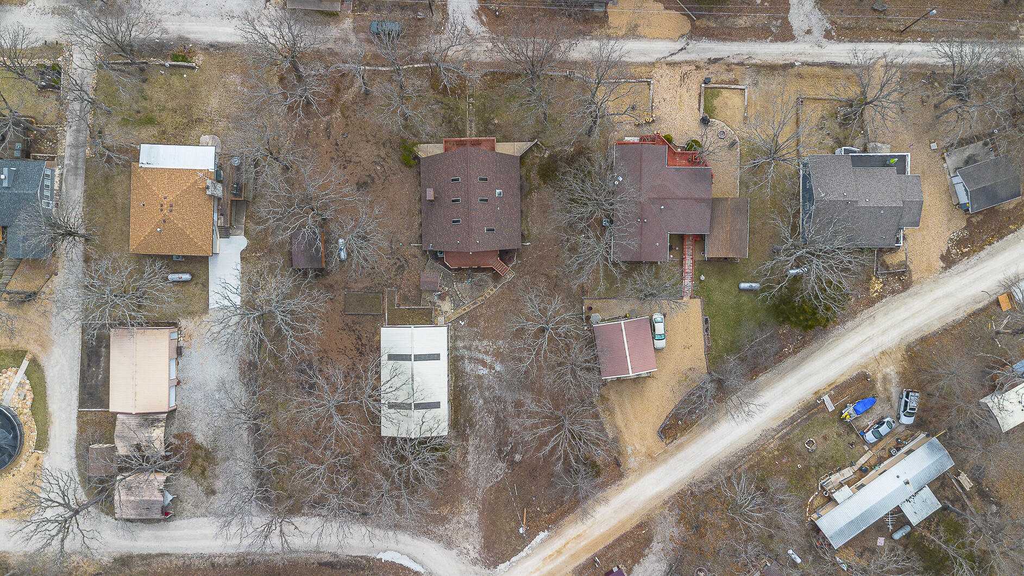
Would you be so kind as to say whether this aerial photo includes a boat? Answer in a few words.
Yes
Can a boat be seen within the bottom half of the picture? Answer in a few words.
Yes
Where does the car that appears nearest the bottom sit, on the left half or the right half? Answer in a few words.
right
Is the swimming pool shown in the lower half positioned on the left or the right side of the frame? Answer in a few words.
left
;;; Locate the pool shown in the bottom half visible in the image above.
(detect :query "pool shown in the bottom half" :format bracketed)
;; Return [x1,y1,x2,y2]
[0,402,29,468]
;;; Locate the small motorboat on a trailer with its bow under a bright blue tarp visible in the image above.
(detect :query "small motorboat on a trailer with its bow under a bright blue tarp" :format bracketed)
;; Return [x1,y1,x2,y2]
[839,396,878,423]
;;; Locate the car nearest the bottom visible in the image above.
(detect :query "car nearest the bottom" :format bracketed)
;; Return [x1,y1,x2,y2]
[861,415,897,445]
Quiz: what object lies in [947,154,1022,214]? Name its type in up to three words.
shed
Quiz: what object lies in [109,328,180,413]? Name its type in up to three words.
building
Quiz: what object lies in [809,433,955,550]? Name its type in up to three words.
house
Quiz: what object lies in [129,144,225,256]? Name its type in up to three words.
house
